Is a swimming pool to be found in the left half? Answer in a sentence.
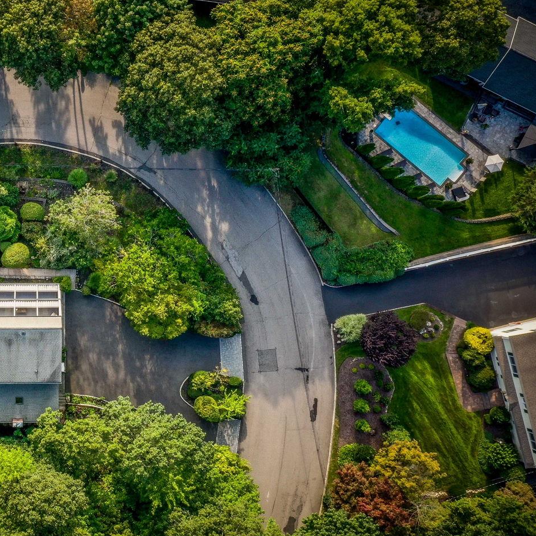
No, no swimming pool is visible in the left half.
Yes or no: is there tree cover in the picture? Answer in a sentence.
Yes, the picture does contain tree cover.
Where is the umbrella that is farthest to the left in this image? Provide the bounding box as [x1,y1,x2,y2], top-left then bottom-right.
[478,154,502,174]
